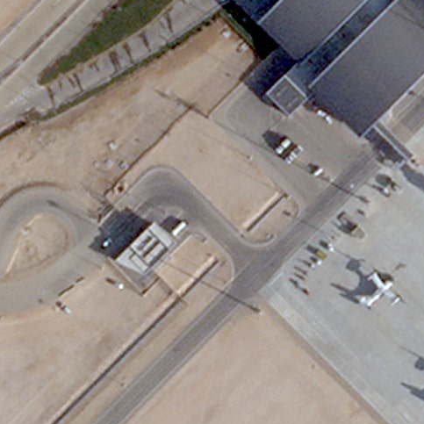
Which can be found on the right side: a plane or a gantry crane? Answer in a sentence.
Visible on the right side is a plane.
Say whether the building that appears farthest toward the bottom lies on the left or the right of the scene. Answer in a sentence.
The building that appears farthest toward the bottom is on the left side of the image.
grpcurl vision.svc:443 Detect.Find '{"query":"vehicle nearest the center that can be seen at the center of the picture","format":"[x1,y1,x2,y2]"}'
[171,221,186,236]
